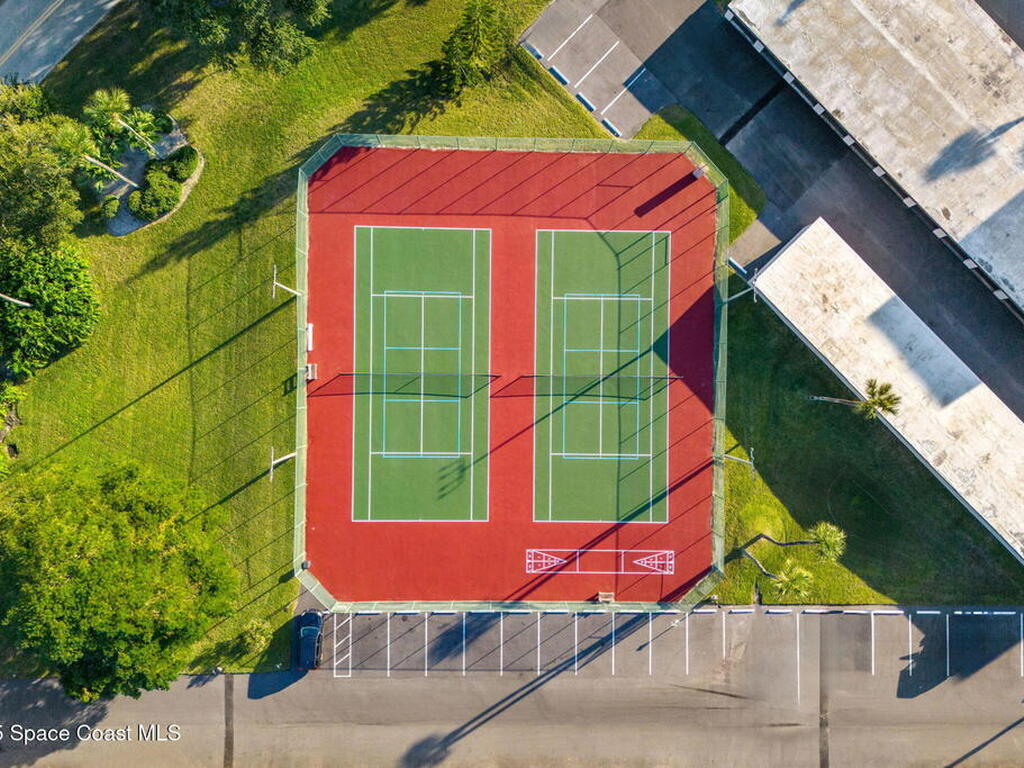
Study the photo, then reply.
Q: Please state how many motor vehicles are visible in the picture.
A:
1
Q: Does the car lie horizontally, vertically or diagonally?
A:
vertically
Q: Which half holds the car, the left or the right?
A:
left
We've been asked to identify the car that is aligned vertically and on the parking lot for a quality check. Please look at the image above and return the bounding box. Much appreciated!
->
[294,608,324,671]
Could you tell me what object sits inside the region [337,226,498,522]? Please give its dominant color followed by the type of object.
green tennis court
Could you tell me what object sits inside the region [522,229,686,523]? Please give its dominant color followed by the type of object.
green tennis court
